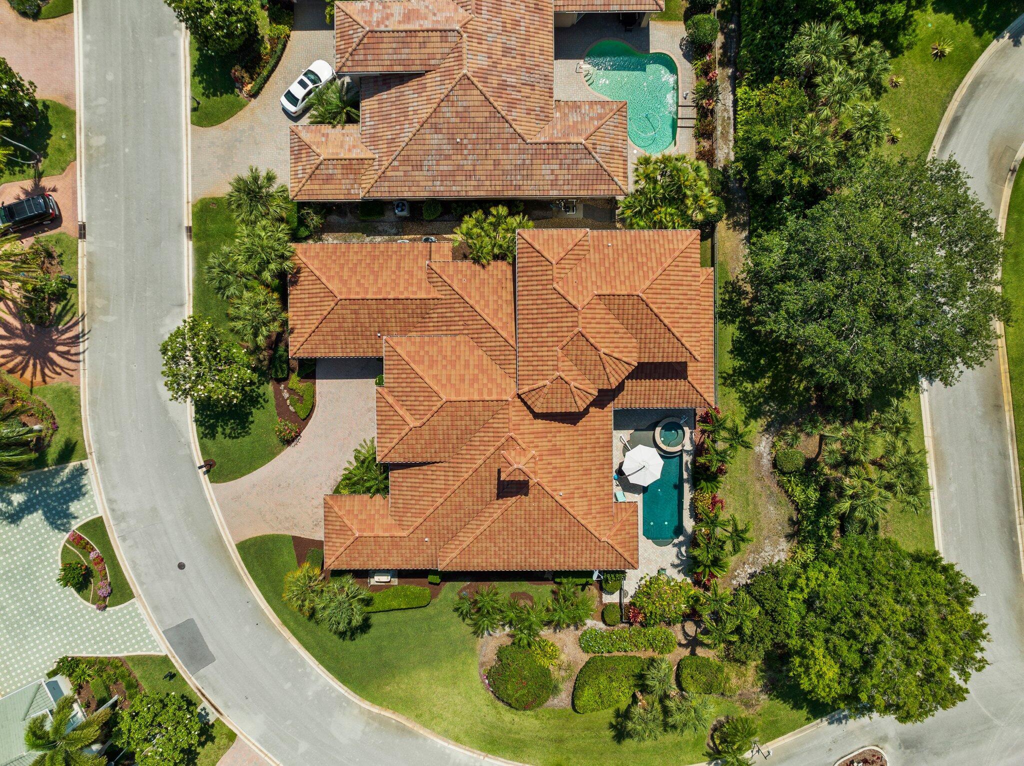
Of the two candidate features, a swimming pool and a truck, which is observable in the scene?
swimming pool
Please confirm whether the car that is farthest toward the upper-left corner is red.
No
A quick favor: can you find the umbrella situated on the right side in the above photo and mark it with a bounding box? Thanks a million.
[614,444,663,486]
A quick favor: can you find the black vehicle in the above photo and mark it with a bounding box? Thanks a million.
[0,194,63,237]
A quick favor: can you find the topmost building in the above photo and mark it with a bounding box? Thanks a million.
[288,0,666,205]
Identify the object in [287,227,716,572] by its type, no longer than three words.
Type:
house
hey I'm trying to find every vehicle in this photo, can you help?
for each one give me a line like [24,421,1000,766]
[280,58,335,115]
[0,194,63,237]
